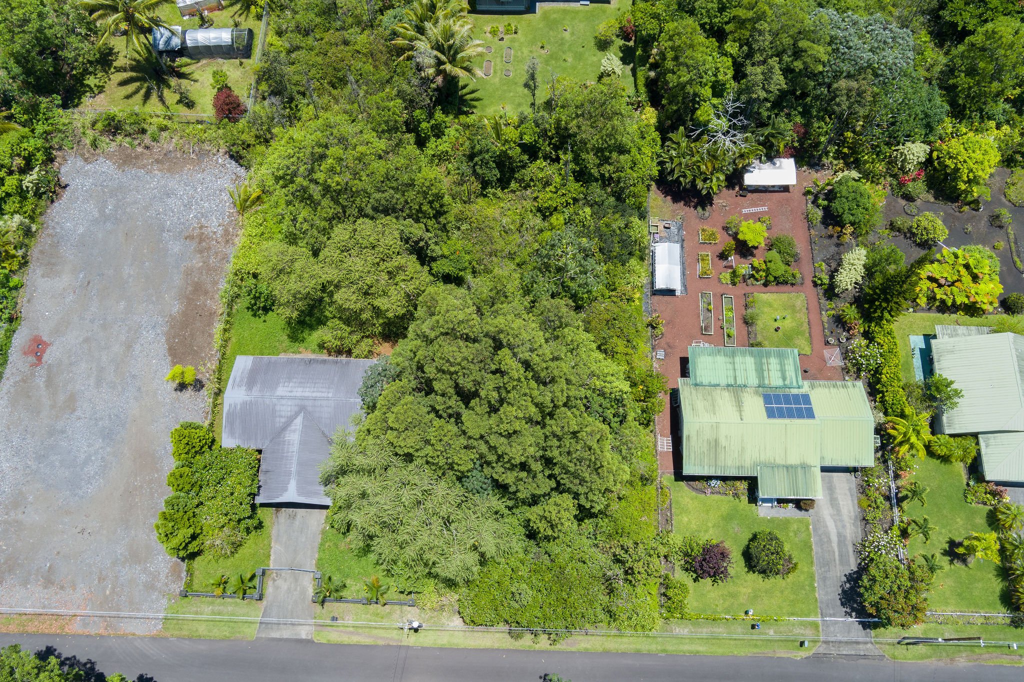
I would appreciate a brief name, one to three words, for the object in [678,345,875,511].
house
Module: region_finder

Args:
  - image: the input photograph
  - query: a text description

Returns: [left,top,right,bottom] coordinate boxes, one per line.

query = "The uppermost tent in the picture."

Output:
[179,30,259,62]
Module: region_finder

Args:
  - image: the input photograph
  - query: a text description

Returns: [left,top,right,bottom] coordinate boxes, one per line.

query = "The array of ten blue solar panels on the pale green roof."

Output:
[762,392,816,418]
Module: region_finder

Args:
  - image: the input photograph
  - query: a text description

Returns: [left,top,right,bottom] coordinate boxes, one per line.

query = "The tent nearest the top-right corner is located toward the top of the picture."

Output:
[738,159,797,195]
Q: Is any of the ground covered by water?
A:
No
